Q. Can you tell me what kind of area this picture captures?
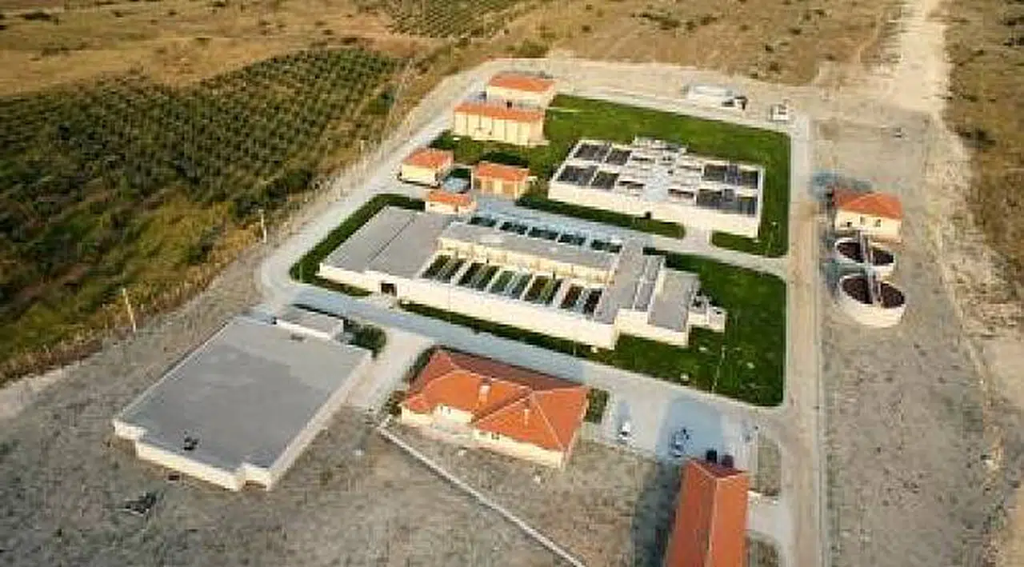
industrial area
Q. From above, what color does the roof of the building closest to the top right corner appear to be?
orange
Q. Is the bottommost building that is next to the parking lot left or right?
right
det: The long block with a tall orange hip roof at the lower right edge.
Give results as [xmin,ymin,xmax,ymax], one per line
[659,454,752,567]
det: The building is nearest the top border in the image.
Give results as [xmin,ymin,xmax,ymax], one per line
[488,73,553,108]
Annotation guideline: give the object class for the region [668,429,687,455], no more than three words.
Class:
car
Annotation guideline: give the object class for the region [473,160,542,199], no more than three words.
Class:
house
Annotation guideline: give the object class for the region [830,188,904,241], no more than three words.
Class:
building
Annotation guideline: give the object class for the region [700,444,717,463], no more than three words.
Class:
car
